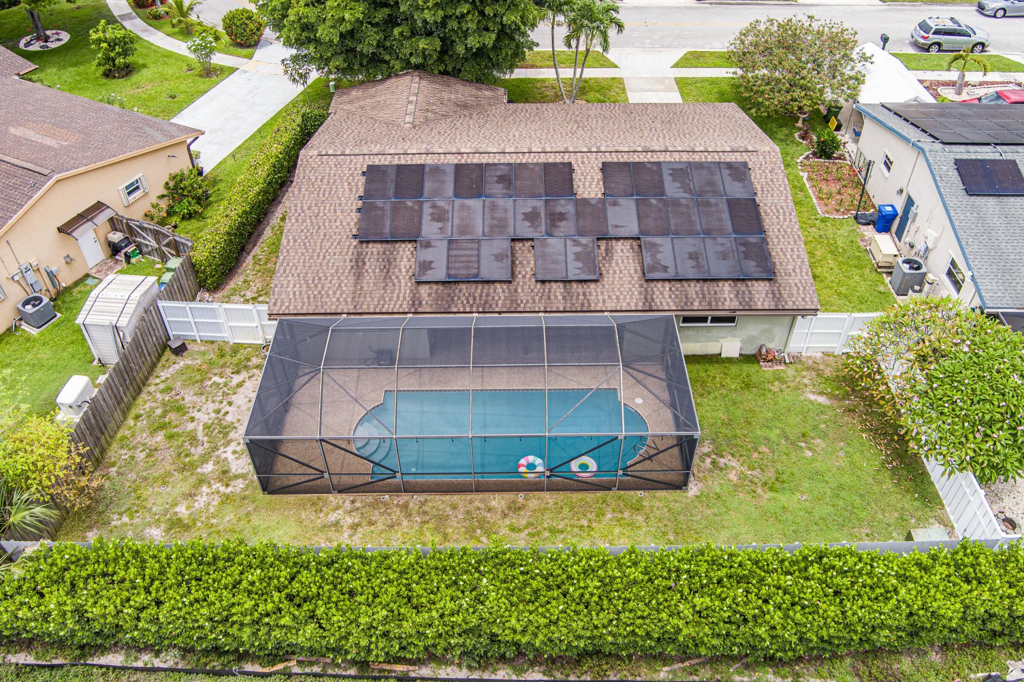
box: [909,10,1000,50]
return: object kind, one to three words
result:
car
